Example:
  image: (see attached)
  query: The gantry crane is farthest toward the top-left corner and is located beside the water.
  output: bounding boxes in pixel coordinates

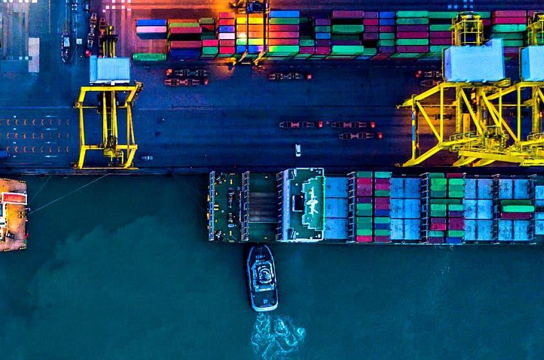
[72,26,147,168]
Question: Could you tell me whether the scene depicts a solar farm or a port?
port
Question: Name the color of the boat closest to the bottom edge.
blue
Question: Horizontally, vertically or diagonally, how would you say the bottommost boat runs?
vertically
